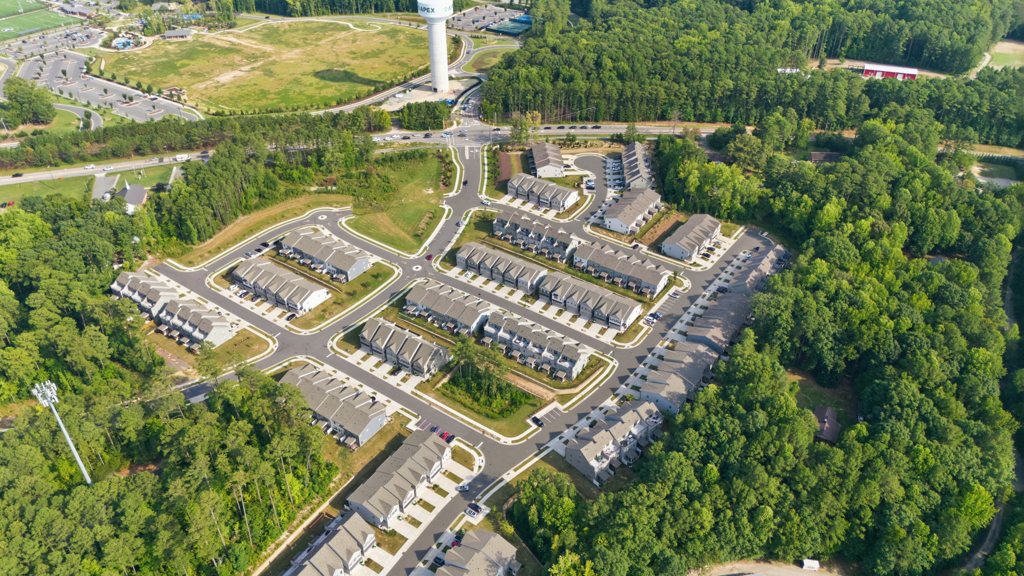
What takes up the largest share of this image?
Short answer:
trees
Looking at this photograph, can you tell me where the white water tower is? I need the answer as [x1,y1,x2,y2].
[416,0,453,95]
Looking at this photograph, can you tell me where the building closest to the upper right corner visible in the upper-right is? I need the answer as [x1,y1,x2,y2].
[859,65,921,80]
